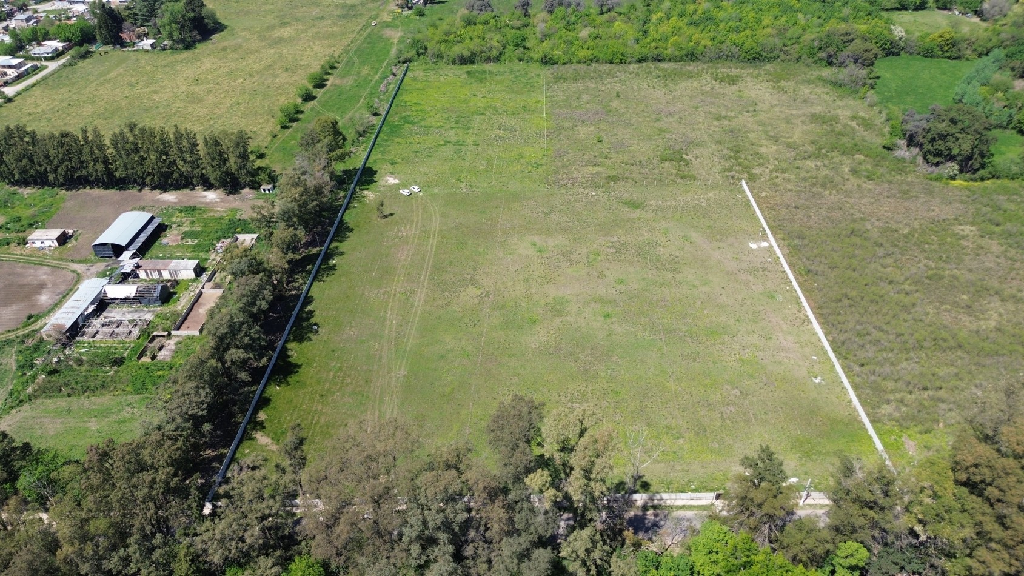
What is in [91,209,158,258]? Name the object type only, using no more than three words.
hangar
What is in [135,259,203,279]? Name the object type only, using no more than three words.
shed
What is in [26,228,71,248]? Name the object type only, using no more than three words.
house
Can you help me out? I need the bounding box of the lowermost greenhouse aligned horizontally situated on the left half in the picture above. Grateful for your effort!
[104,285,167,306]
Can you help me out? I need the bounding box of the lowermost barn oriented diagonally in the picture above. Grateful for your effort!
[42,279,112,341]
